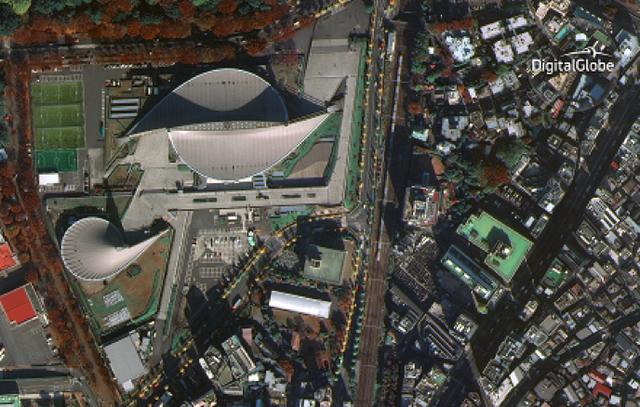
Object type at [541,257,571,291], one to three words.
building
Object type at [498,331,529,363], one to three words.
building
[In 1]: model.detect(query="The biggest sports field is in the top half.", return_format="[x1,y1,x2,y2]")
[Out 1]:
[31,65,150,194]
